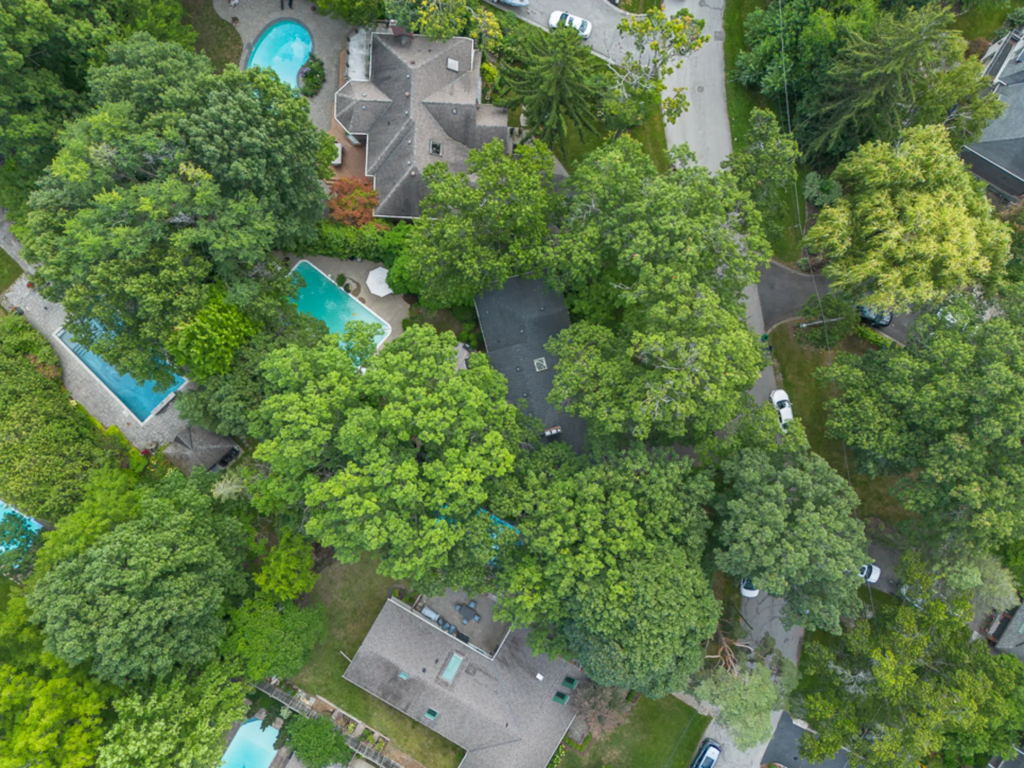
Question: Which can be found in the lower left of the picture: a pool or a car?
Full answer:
The feature located in the lower left of the picture is a pool.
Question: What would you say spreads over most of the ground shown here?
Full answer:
The scene is dominated by trees.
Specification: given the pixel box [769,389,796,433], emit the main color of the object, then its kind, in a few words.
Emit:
white car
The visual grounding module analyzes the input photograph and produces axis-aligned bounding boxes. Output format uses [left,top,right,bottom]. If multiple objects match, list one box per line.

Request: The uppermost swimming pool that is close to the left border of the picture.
[51,315,187,427]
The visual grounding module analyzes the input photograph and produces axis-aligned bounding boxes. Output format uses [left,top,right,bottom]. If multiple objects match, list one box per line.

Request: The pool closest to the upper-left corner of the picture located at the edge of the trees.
[241,15,316,87]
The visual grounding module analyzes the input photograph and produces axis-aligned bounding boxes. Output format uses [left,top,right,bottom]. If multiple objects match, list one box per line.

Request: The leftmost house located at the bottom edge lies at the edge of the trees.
[341,589,586,768]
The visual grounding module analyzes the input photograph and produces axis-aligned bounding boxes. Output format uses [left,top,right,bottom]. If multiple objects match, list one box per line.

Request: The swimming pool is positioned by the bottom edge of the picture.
[215,714,280,768]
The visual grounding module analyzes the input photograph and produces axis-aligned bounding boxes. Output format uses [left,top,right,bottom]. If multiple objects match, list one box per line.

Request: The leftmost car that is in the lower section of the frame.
[684,735,721,768]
